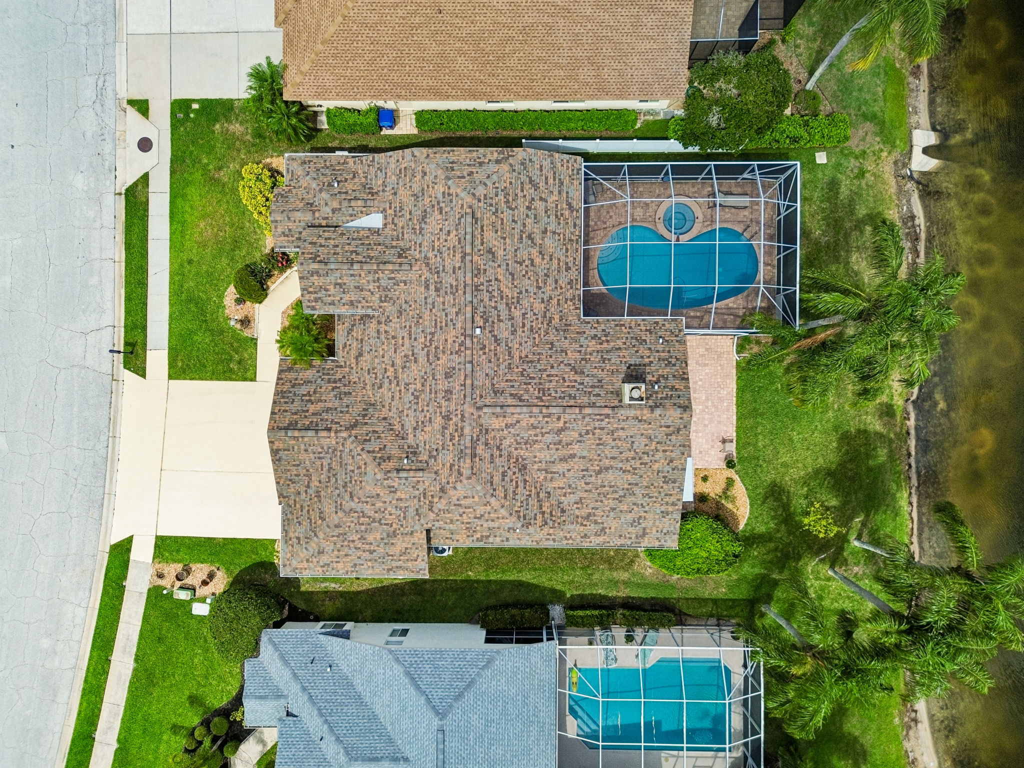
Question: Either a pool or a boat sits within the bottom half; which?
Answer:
pool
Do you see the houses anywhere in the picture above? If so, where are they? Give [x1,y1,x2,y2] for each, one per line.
[242,621,558,768]
[268,148,695,578]
[275,0,693,109]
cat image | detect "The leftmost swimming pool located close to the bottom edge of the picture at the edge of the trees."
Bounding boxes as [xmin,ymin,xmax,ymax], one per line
[565,654,734,755]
